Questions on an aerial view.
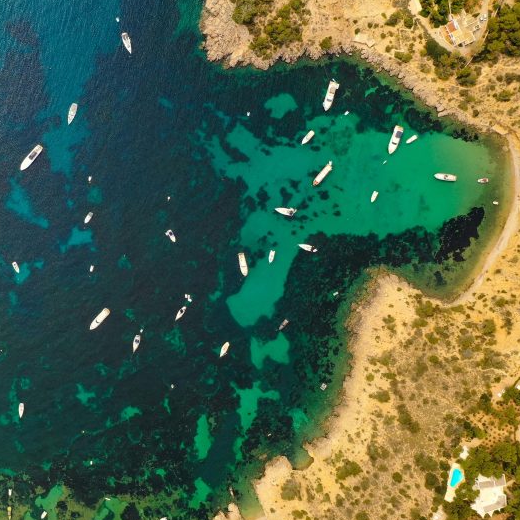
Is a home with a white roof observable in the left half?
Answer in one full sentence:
No, there is no home with a white roof in the left half.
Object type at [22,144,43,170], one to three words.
boat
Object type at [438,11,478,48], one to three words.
house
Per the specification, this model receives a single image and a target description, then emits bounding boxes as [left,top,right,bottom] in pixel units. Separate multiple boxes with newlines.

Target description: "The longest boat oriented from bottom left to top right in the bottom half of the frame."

[90,306,110,330]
